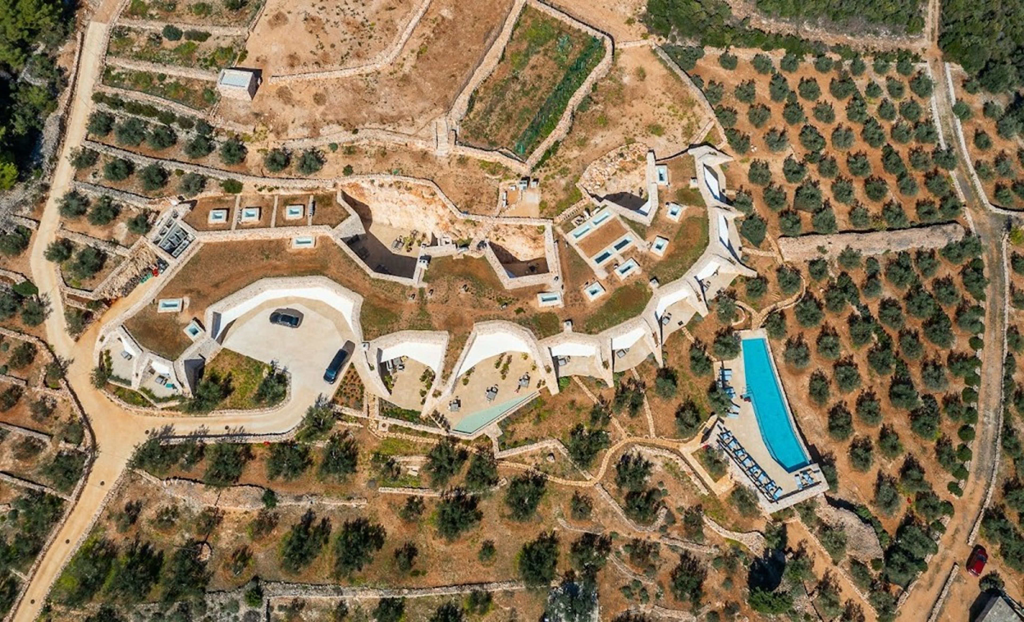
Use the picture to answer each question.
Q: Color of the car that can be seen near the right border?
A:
red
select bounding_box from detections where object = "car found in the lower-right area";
[967,546,990,578]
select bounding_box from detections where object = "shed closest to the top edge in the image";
[217,69,260,102]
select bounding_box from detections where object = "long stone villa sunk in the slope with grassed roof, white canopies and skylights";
[93,145,757,436]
